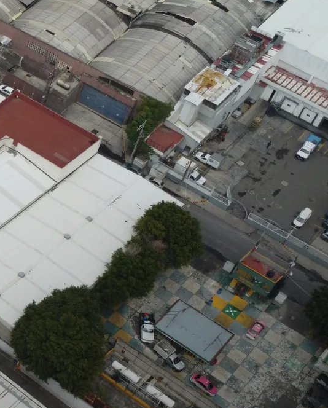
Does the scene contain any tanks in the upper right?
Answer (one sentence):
No, there's no tank to be seen in the upper right.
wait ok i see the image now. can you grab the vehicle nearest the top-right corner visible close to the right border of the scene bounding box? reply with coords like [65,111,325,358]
[295,135,325,159]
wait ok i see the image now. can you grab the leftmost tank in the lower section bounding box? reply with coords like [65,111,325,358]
[105,362,138,392]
